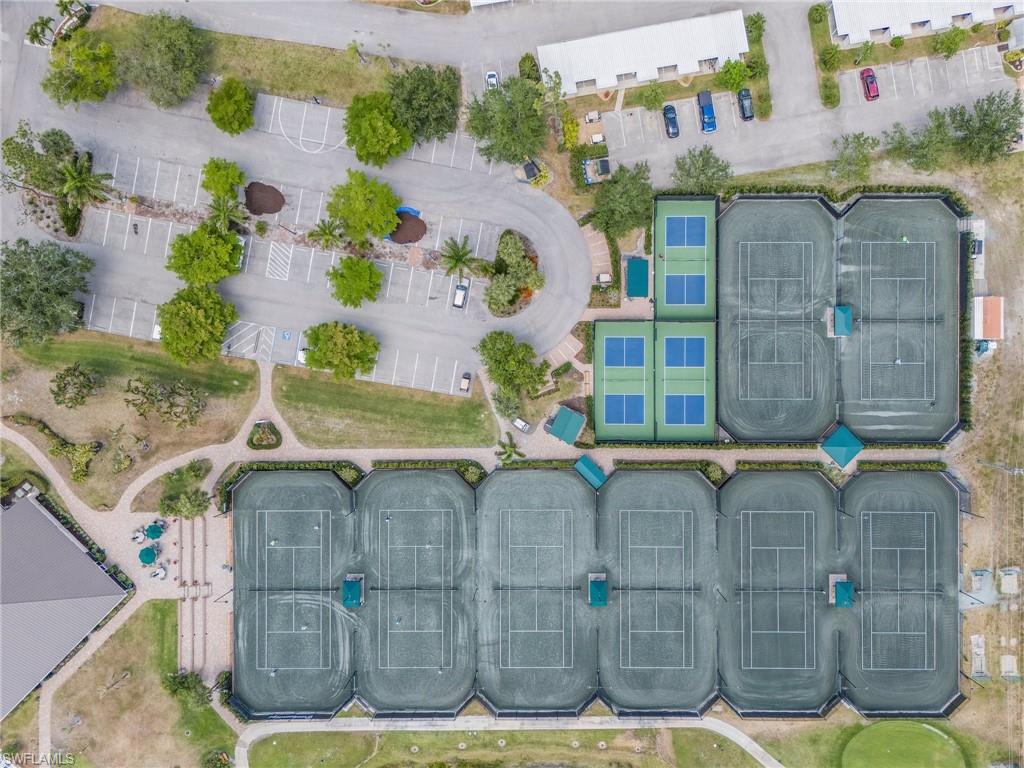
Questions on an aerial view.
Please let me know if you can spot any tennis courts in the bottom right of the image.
Yes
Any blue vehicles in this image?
Yes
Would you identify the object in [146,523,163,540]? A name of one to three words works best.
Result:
umbrella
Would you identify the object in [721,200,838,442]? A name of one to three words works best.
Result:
tennis court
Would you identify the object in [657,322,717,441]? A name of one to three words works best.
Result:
sports court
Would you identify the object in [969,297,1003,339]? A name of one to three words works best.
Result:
shed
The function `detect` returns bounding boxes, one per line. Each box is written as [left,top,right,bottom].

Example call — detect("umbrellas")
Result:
[139,546,158,564]
[146,523,163,540]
